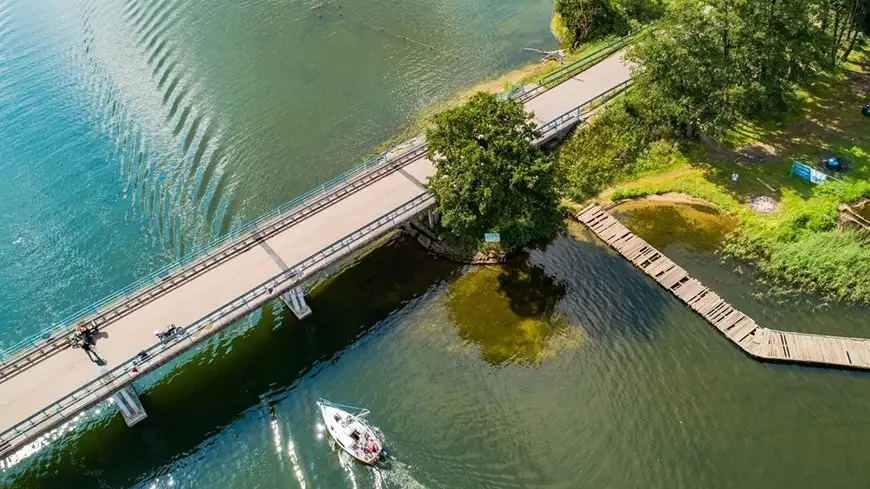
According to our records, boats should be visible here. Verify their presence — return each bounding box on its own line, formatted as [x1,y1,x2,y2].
[317,398,387,472]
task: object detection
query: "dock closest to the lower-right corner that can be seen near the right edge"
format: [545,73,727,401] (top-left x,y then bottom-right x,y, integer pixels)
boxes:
[577,202,870,373]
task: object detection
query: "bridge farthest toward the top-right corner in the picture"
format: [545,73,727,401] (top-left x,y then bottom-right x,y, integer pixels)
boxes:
[492,82,582,150]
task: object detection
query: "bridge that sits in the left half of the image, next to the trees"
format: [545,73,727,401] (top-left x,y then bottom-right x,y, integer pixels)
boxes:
[0,150,447,477]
